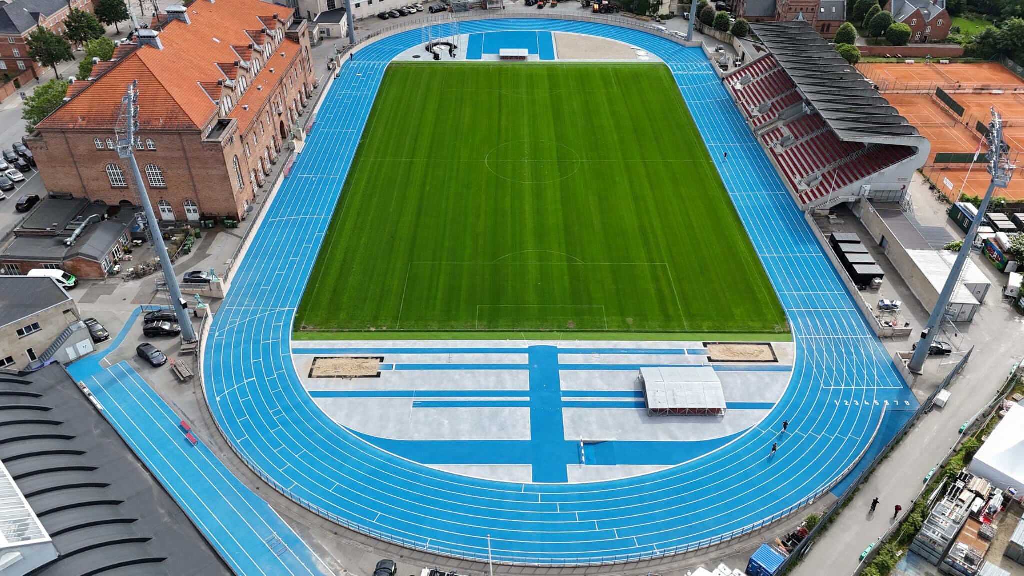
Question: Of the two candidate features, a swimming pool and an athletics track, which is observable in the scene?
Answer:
athletics track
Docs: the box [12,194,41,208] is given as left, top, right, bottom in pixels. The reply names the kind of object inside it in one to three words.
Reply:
car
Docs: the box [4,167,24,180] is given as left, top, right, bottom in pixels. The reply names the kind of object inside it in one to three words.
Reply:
vehicle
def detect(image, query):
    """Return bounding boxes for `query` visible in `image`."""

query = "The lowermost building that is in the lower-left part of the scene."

[0,359,237,576]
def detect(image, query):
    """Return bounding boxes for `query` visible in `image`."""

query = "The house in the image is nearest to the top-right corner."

[891,0,963,42]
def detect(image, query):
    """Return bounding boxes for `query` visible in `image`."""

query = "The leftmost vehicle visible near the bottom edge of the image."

[373,555,396,576]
